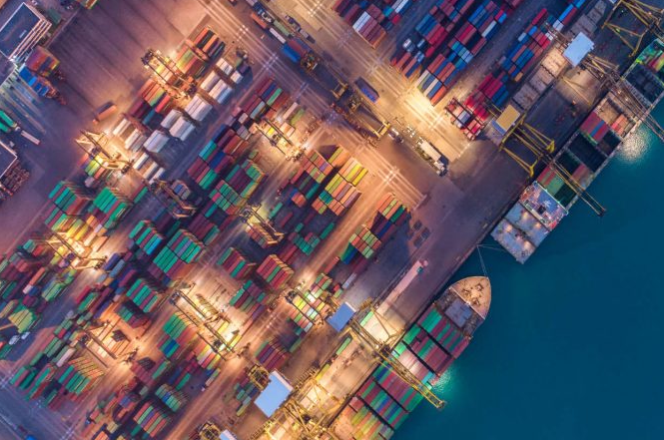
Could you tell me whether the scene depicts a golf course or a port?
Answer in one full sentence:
The picture captures a port.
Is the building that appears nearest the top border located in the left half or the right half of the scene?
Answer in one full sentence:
The building that appears nearest the top border sits on the left side.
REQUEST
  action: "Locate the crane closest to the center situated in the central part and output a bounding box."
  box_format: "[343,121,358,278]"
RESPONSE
[244,208,293,246]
